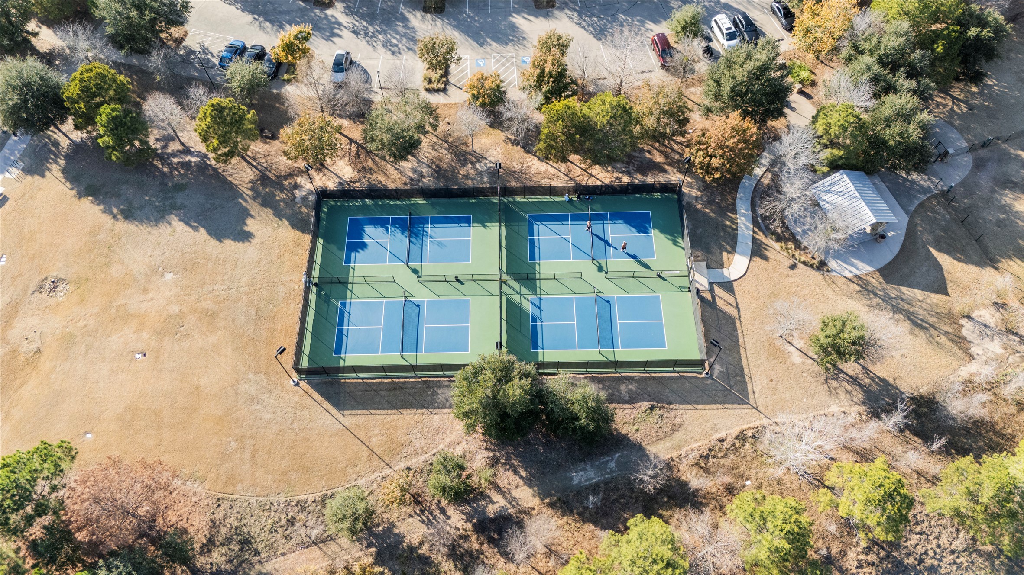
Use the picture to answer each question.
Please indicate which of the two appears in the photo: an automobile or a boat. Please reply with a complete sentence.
Visible in the photo is an automobile.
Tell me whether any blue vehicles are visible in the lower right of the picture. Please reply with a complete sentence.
No, I see no blue vehicle in the lower right of the picture.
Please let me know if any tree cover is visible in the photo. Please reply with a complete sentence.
Yes, there is tree cover in the image.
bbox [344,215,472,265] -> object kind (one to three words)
sports court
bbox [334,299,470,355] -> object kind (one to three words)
sports court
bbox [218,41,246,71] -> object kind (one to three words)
car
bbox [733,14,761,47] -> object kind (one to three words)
car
